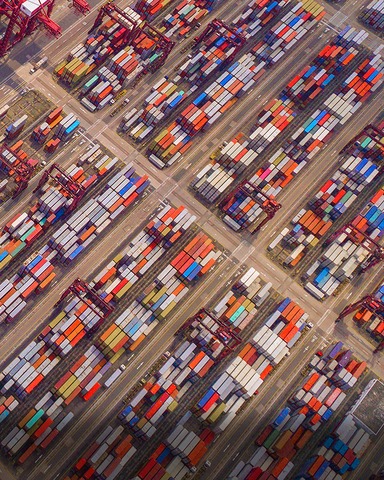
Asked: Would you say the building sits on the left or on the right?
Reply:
right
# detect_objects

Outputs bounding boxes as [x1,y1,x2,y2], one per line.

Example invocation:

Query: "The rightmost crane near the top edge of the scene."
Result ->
[193,17,249,67]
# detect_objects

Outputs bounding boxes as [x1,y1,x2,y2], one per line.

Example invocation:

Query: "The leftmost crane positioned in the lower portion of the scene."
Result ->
[55,278,114,330]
